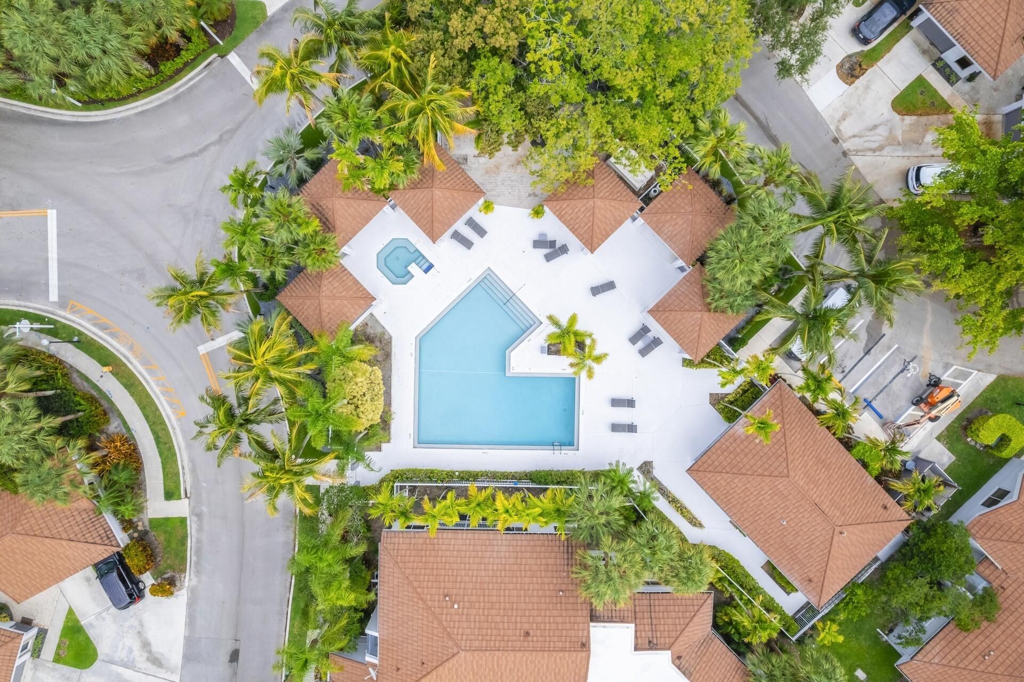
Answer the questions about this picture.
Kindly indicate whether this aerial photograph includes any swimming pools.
Yes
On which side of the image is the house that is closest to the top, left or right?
right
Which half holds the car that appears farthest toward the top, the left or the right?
right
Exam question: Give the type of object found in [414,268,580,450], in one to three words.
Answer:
swimming pool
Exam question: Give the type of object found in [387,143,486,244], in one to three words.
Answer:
building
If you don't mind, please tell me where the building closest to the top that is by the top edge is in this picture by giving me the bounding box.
[909,0,1024,83]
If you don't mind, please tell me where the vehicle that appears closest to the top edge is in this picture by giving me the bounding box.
[851,0,916,48]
